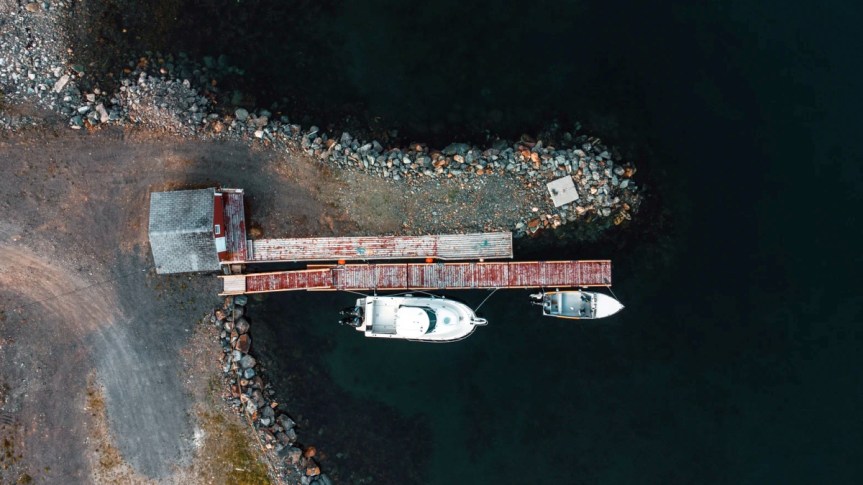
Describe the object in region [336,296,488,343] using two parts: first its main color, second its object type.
white boat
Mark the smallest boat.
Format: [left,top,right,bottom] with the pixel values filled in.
[526,290,624,319]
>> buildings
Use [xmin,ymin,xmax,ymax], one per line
[148,189,233,273]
